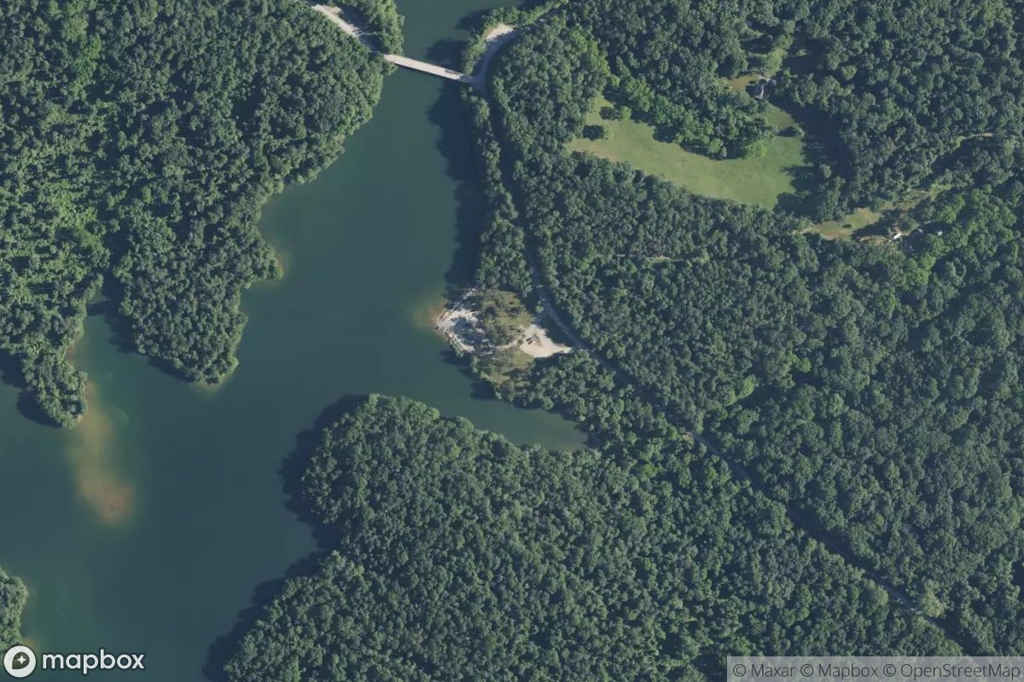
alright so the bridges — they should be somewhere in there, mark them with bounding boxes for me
[381,51,478,84]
